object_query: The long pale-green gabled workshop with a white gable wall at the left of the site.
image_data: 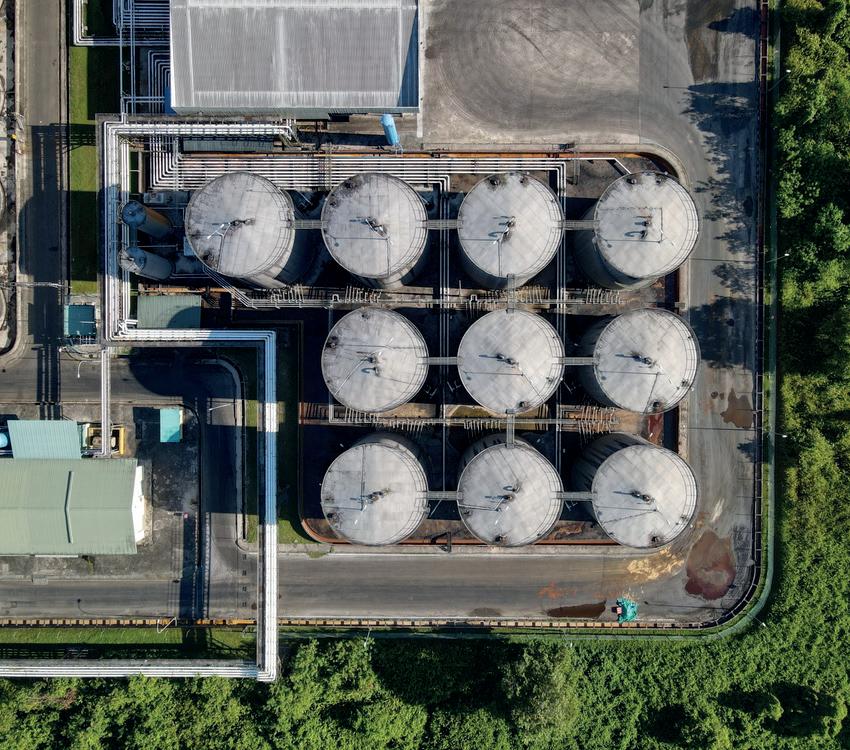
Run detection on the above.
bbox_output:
[0,458,145,555]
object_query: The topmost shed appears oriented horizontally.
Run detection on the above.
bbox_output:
[165,0,418,122]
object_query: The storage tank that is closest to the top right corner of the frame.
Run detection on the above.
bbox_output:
[570,170,702,292]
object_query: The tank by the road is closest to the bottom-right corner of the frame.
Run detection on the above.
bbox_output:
[568,433,701,551]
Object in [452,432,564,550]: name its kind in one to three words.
storage tank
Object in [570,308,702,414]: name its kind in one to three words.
storage tank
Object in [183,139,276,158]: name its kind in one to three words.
shed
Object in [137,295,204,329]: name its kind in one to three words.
shed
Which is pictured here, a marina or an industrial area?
industrial area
